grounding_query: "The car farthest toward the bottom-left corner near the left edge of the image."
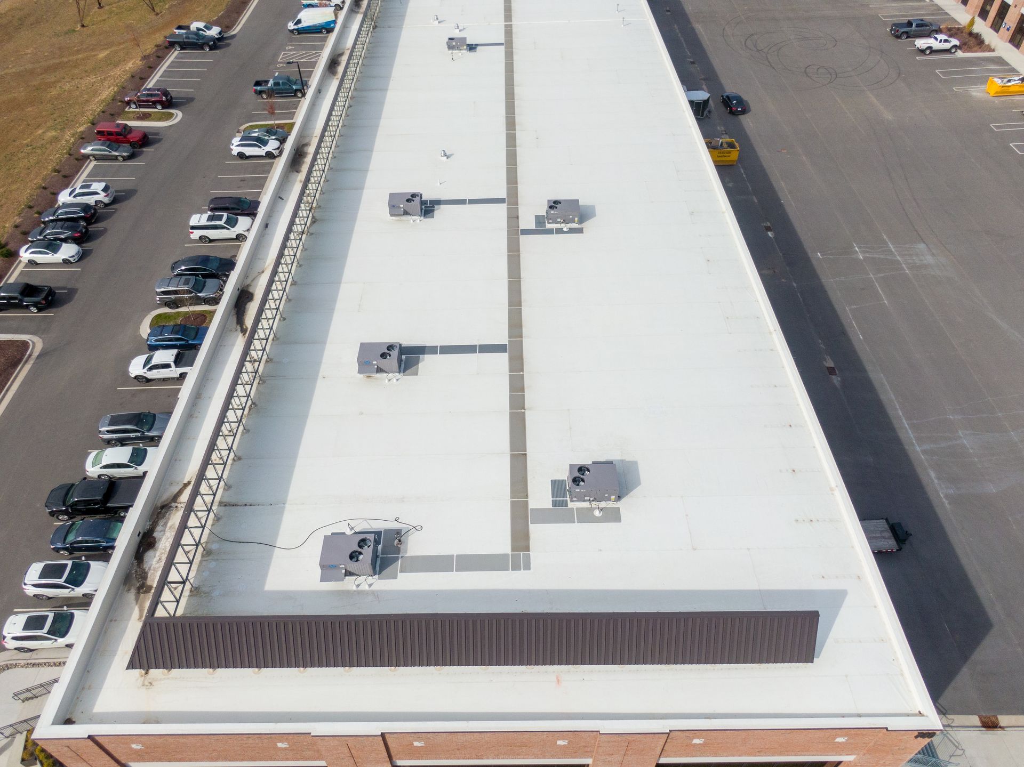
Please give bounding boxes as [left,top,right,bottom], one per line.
[0,609,88,654]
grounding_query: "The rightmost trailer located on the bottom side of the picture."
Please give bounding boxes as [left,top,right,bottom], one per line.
[858,518,919,552]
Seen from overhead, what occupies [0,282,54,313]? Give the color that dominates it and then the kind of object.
black truck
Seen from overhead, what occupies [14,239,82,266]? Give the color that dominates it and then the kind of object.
white car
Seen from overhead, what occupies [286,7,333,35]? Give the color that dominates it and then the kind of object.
white van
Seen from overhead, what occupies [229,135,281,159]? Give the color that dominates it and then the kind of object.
white car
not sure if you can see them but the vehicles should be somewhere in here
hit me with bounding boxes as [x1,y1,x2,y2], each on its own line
[229,135,281,159]
[123,84,174,110]
[87,121,149,149]
[15,559,108,602]
[14,239,82,266]
[250,73,309,99]
[888,16,943,39]
[125,351,199,384]
[241,121,293,140]
[165,255,236,282]
[25,217,90,243]
[0,609,88,654]
[301,0,347,10]
[720,92,749,115]
[165,30,218,51]
[92,410,171,448]
[914,32,965,55]
[0,282,54,313]
[171,21,224,40]
[188,212,253,244]
[80,444,158,480]
[143,322,209,351]
[47,519,124,557]
[286,7,333,35]
[42,479,144,522]
[78,140,133,161]
[54,179,118,208]
[36,197,101,222]
[201,190,261,219]
[151,275,225,310]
